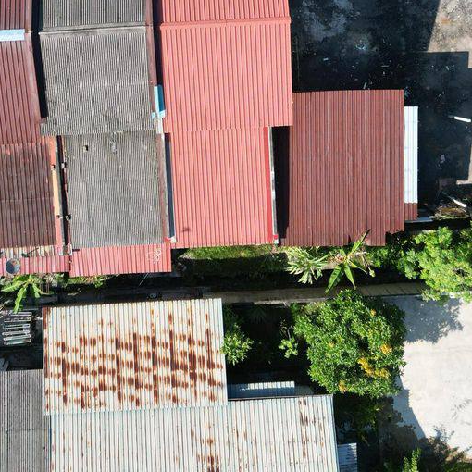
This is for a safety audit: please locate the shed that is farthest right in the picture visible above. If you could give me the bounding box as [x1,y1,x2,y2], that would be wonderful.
[282,89,419,249]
